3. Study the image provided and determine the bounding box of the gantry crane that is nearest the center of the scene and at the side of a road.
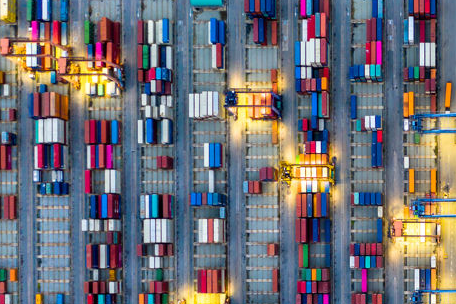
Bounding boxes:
[223,88,282,125]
